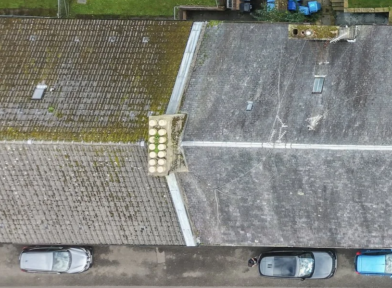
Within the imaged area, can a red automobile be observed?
No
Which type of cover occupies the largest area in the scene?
buildings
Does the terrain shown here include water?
No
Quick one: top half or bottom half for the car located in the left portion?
bottom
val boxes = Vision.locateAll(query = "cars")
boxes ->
[259,248,337,286]
[19,246,96,279]
[356,249,392,281]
